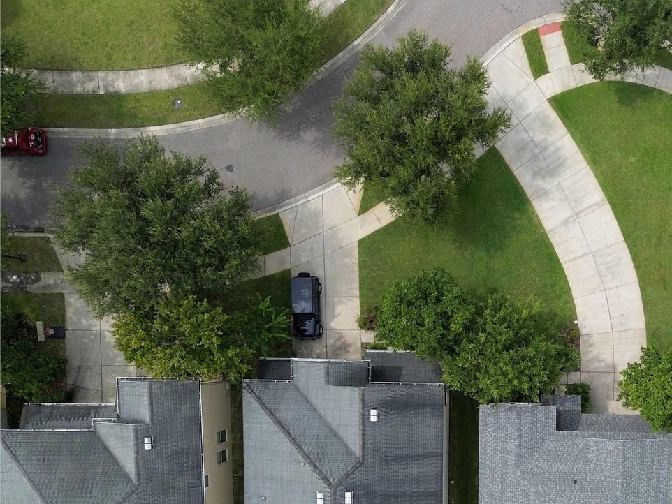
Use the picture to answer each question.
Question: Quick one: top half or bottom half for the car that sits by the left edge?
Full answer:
The top half of the photo is where the car that sits by the left edge is.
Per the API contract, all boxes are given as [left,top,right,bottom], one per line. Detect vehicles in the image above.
[0,125,49,161]
[290,271,326,337]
